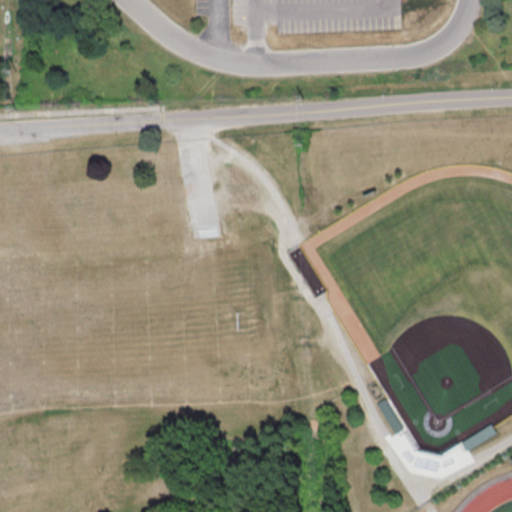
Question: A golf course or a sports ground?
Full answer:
This looks like a sports ground.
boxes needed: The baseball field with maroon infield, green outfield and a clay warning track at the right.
[302,165,512,453]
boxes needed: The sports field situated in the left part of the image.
[0,257,262,402]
